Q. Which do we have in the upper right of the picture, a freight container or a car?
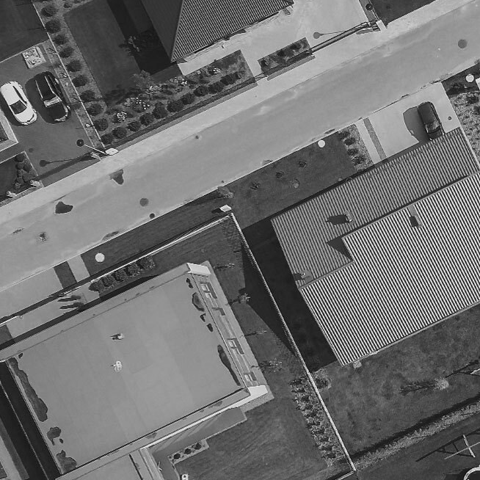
car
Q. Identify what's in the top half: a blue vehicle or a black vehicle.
black vehicle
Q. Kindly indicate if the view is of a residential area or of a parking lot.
residential area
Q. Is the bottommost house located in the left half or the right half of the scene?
left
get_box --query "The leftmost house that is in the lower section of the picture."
[0,263,266,480]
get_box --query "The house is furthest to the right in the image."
[270,127,480,365]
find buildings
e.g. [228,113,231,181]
[270,127,480,365]
[140,0,296,65]
[0,263,266,480]
[0,102,21,154]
